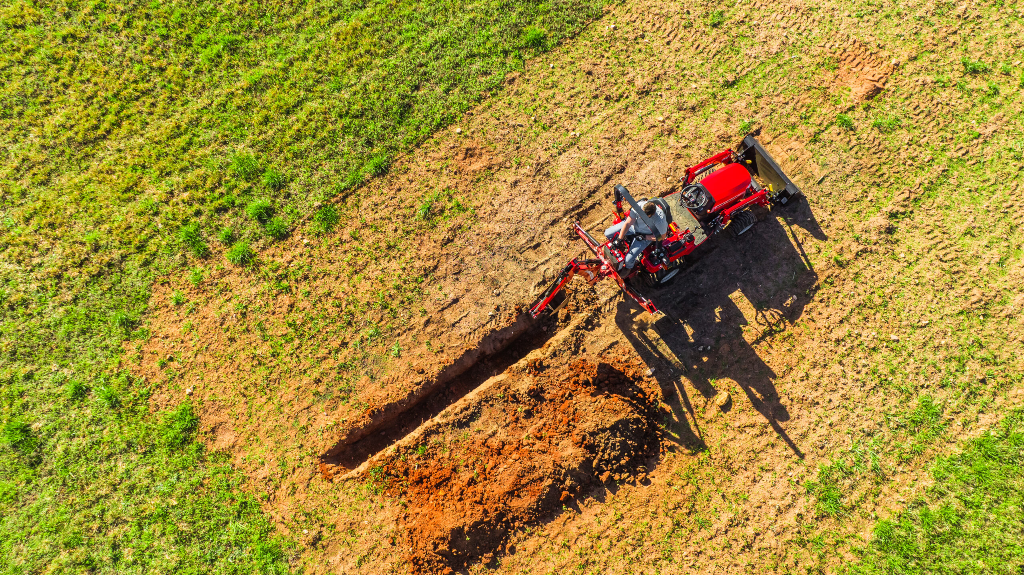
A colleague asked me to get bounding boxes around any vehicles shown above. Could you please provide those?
[523,133,808,326]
